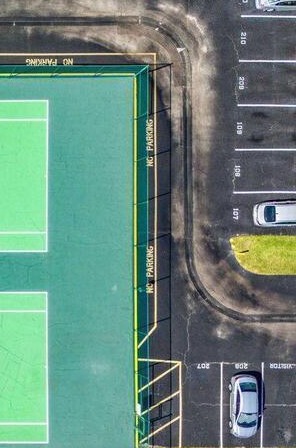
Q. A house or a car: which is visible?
car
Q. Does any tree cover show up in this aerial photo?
No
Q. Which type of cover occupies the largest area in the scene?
paved ground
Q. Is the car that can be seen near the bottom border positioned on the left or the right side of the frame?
right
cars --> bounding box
[227,374,261,438]
[253,200,296,227]
[256,0,296,12]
